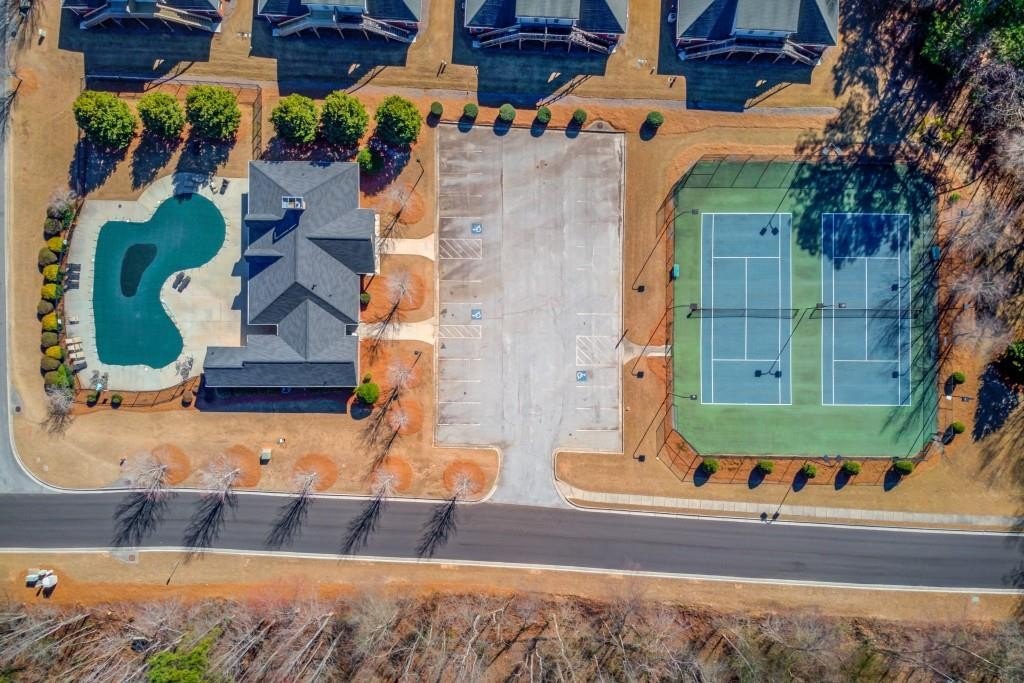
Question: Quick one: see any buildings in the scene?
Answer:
Yes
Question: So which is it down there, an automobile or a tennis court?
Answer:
tennis court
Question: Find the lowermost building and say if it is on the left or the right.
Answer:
left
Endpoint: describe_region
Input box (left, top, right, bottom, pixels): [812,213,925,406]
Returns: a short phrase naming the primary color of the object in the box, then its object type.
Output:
blue tennis court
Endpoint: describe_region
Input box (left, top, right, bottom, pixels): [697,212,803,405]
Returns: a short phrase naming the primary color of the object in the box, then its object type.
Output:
blue tennis court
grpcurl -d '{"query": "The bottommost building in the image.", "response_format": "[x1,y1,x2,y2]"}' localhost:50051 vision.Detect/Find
[199,160,381,388]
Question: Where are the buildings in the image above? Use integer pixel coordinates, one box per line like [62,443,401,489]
[464,0,628,52]
[676,0,841,64]
[199,160,381,388]
[61,0,229,32]
[257,0,420,41]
